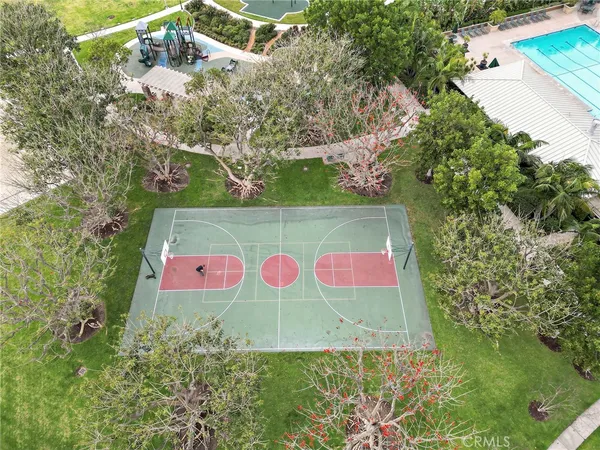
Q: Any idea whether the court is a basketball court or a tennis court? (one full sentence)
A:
Specifically, the court is a basketball court.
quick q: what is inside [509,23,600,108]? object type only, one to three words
swimming pool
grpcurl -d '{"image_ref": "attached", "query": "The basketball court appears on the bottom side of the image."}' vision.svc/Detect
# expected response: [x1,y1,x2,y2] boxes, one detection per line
[117,205,437,356]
